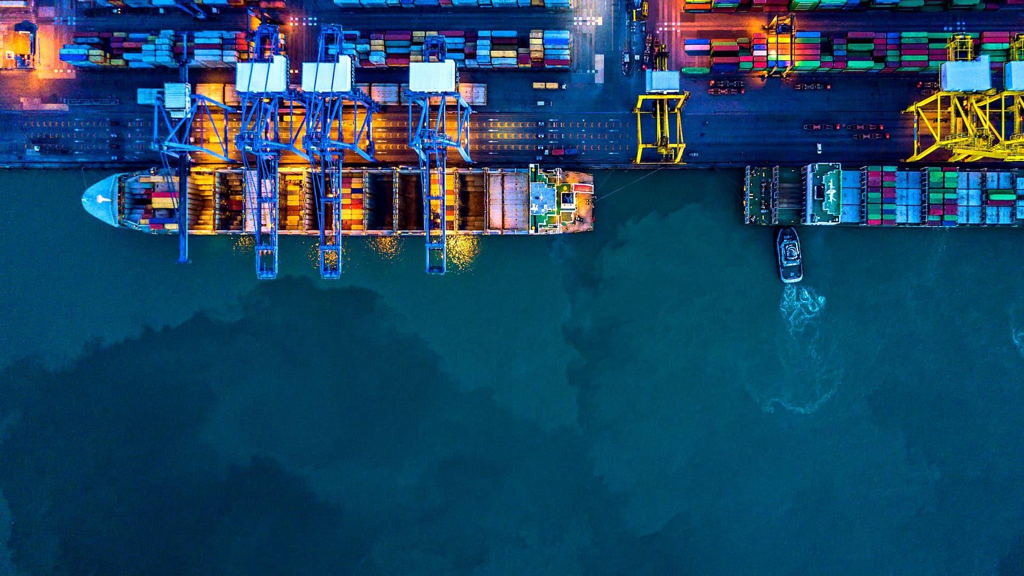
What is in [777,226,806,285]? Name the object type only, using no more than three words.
boat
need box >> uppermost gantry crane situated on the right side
[758,11,796,77]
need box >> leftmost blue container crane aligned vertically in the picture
[137,32,242,262]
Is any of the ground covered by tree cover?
No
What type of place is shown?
port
